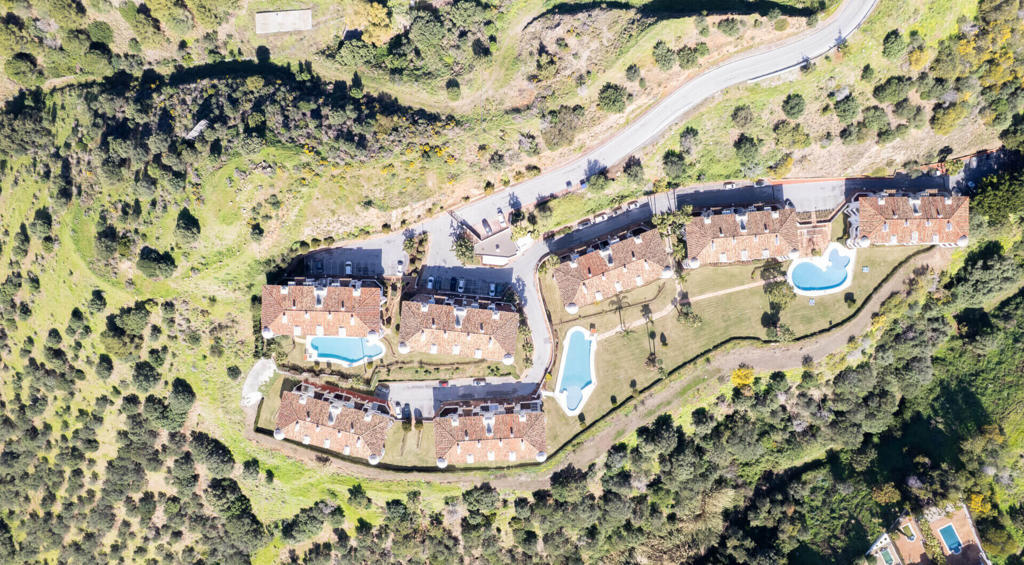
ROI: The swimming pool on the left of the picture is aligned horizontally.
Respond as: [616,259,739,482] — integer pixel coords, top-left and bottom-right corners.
[300,335,386,369]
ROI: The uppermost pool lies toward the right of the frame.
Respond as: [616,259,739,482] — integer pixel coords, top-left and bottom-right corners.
[787,242,857,297]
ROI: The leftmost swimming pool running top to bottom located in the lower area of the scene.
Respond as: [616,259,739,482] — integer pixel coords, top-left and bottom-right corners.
[554,326,598,418]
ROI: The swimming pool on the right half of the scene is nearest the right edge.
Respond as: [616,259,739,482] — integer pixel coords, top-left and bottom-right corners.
[937,522,963,556]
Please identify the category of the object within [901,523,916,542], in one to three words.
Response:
swimming pool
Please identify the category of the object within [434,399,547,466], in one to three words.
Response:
building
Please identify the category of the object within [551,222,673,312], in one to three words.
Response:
building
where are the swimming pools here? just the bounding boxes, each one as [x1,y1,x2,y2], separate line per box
[554,326,598,418]
[937,522,963,556]
[300,335,386,369]
[880,548,895,565]
[901,523,916,542]
[787,242,857,297]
